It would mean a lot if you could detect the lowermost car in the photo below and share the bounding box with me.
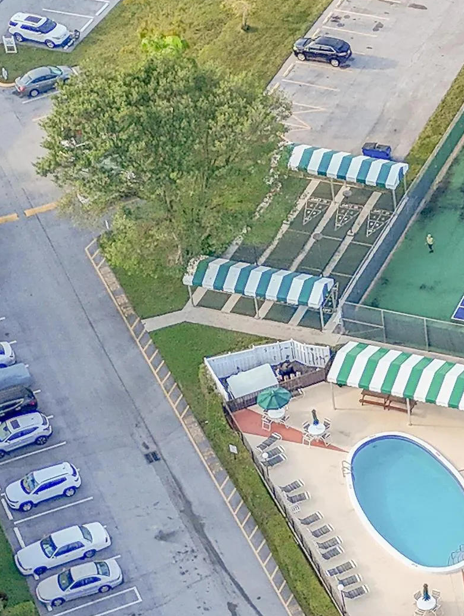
[33,559,122,608]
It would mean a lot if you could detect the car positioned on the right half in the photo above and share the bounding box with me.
[291,36,353,66]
